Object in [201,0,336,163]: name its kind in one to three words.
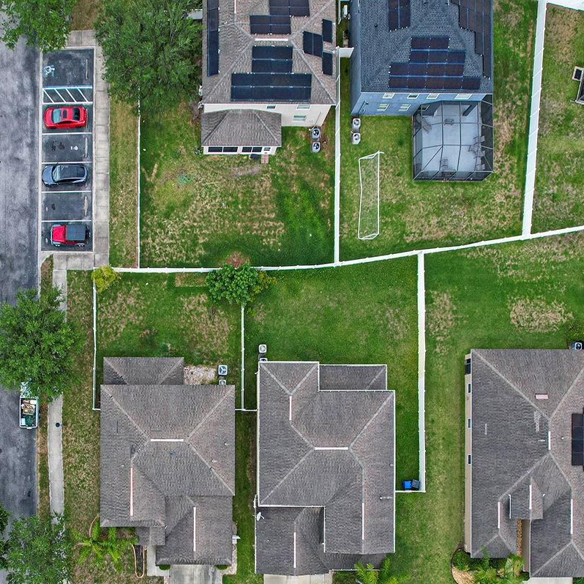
house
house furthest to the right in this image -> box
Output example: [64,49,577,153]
[465,349,584,577]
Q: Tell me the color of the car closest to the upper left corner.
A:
red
